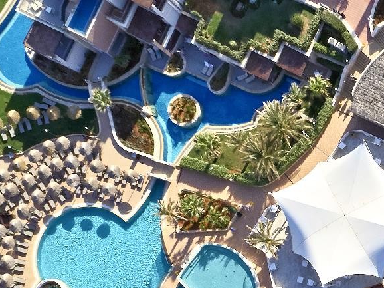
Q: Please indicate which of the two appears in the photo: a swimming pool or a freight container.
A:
swimming pool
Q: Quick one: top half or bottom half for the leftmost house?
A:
top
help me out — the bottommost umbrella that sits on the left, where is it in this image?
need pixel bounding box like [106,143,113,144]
[2,273,18,288]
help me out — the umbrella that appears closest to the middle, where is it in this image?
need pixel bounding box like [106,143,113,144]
[126,170,141,184]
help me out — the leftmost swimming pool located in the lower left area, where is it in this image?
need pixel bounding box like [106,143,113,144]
[35,172,173,288]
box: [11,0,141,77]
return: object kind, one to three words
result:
house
